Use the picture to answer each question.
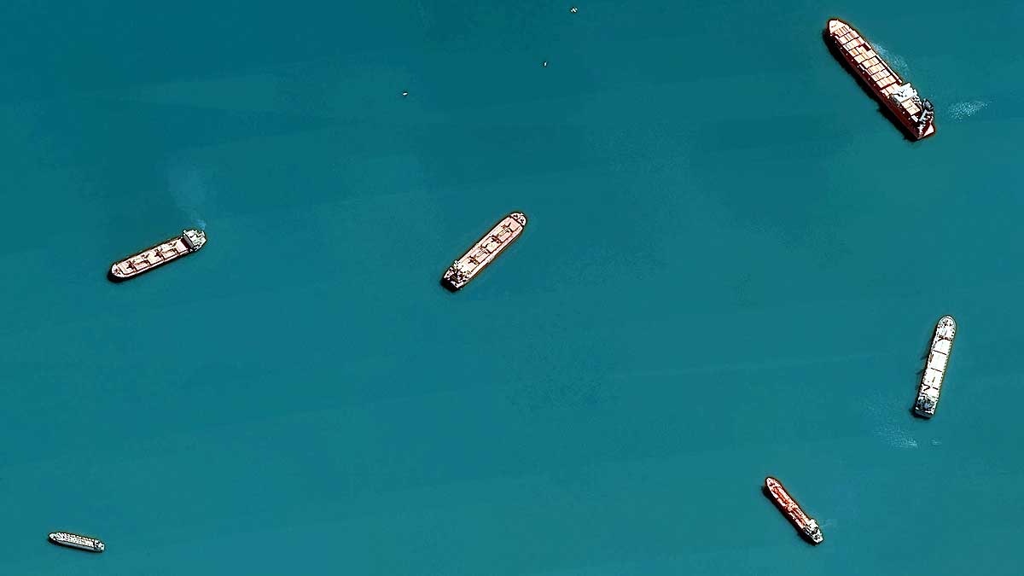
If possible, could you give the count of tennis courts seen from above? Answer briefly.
none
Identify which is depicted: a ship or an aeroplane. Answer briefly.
ship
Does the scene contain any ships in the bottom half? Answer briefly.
Yes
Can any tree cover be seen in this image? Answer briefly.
No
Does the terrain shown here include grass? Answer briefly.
No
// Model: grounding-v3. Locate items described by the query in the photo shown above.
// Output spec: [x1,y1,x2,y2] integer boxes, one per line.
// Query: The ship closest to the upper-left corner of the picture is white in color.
[111,229,209,277]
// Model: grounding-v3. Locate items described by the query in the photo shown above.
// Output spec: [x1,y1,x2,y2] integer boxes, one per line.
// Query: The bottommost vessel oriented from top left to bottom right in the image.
[767,476,824,543]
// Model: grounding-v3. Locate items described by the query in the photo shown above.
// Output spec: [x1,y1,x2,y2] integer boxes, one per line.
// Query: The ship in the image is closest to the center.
[445,212,527,287]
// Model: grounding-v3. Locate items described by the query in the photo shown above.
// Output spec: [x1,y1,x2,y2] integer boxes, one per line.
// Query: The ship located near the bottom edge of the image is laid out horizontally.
[50,532,105,551]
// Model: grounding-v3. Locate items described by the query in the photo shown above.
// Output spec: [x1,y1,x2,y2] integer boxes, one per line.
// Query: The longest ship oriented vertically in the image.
[916,315,955,416]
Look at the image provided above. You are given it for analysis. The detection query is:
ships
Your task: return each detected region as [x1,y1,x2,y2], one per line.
[767,476,824,543]
[829,16,934,137]
[111,229,209,277]
[445,212,527,287]
[916,315,955,416]
[50,532,105,551]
